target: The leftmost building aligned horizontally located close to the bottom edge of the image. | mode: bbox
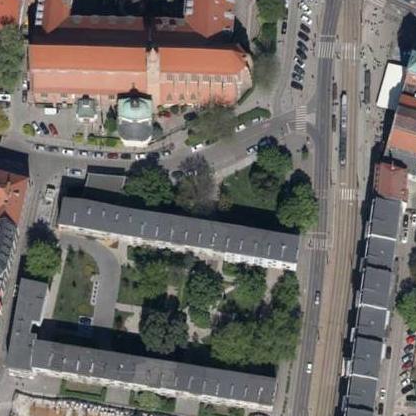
[31,338,277,413]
